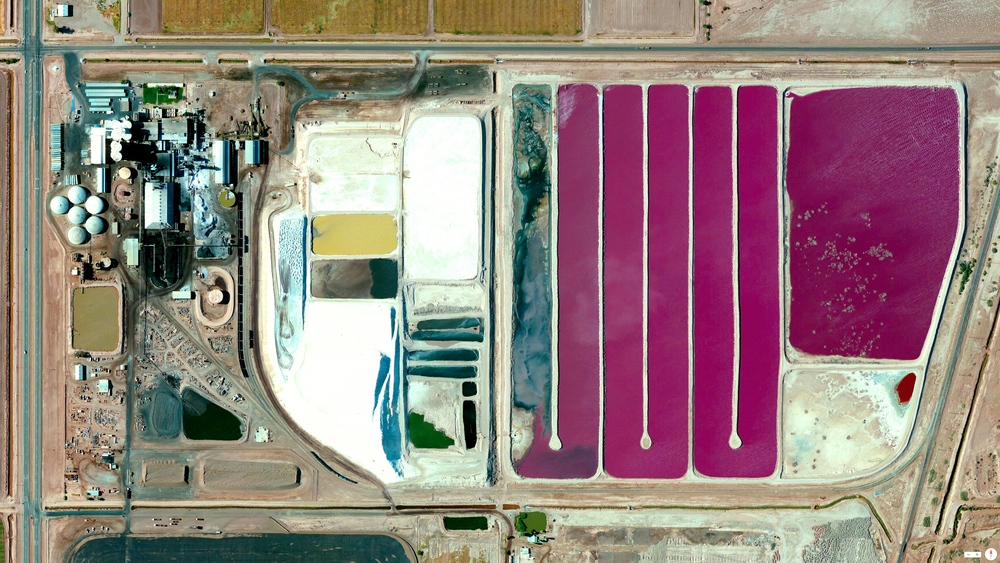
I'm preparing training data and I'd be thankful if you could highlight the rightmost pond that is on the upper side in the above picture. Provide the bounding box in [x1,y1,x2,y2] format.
[785,87,959,359]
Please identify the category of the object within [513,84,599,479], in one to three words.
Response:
pond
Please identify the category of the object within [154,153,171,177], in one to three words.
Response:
building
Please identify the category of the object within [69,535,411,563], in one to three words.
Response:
pond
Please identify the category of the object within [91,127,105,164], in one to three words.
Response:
building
